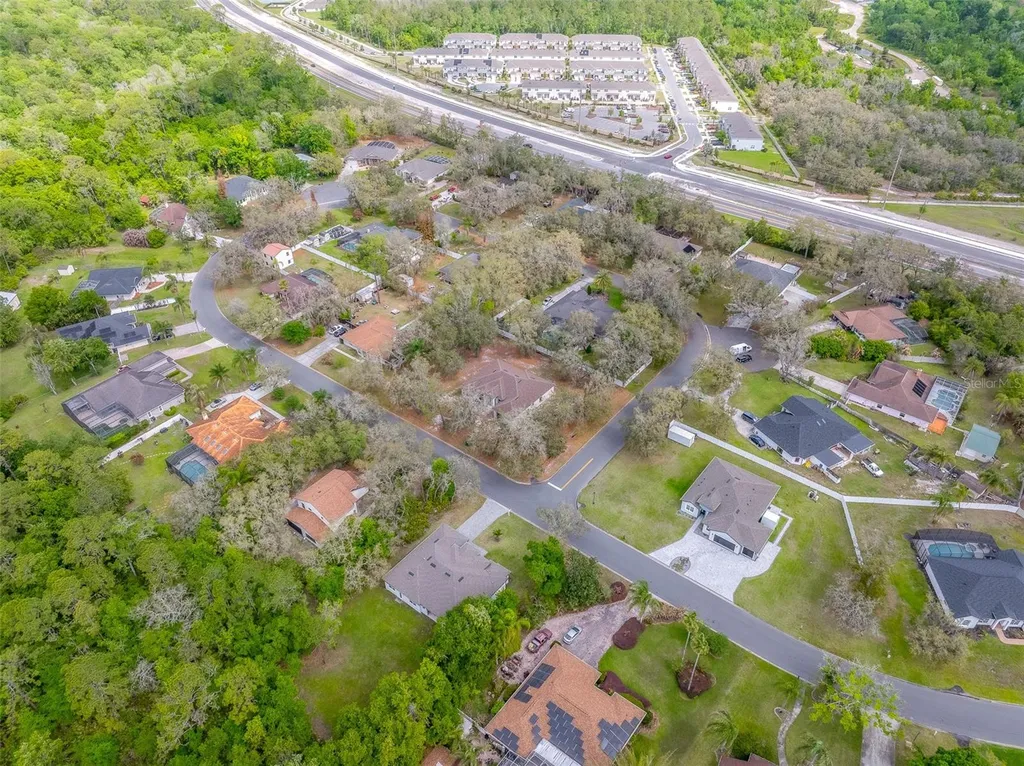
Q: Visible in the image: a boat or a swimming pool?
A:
swimming pool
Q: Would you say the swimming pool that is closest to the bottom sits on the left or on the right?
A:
right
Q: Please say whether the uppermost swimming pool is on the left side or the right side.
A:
left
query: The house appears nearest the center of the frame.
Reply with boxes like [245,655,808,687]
[459,356,558,423]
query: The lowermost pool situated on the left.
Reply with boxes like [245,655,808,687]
[166,448,225,492]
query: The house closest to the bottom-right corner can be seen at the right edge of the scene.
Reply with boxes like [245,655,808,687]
[924,549,1024,631]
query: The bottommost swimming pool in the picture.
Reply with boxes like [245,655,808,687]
[914,538,986,562]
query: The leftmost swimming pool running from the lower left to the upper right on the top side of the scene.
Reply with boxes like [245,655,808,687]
[333,237,363,257]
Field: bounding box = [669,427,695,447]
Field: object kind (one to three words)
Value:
shed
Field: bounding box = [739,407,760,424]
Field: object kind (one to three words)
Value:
vehicle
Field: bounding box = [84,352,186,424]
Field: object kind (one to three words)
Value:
house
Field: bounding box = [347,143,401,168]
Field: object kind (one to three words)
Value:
house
